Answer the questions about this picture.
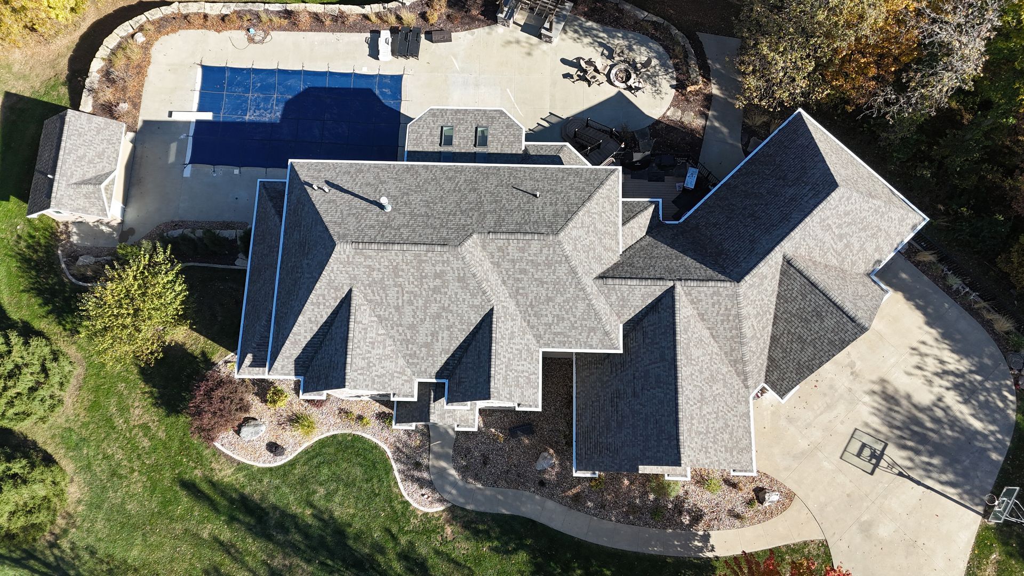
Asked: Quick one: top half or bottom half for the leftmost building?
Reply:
top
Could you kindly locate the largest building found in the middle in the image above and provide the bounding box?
[236,108,929,482]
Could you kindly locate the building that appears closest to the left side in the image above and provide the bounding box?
[28,110,135,224]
